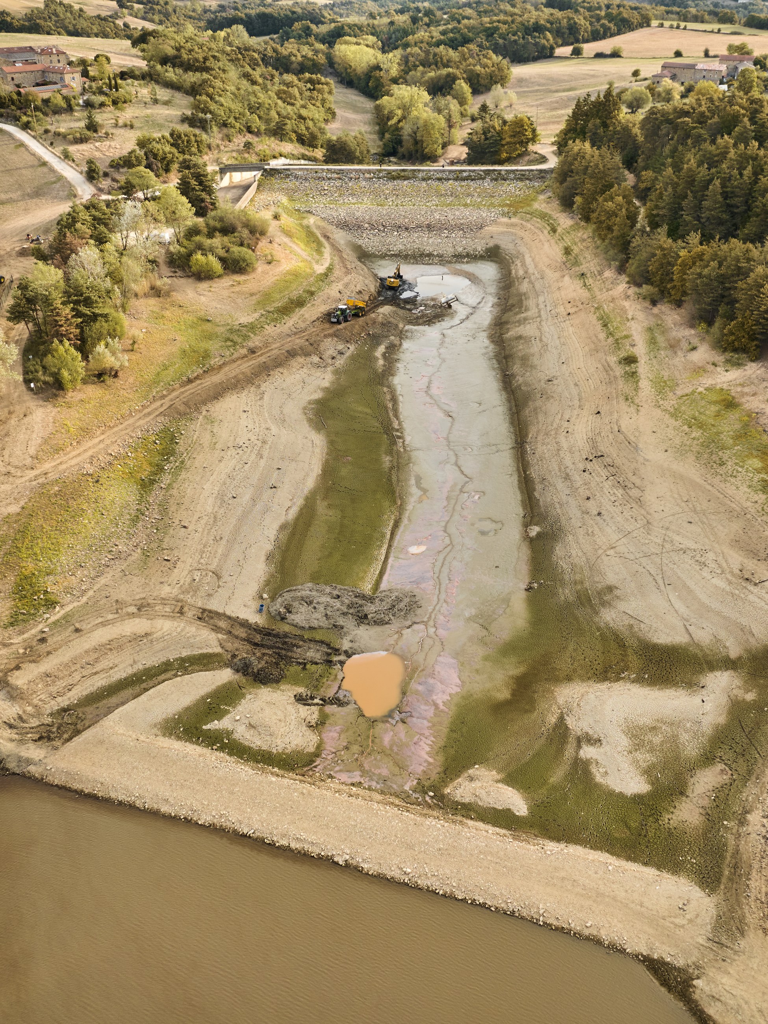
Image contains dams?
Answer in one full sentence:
Yes, a dam appears in the view.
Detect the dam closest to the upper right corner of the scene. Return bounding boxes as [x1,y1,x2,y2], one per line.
[240,165,563,263]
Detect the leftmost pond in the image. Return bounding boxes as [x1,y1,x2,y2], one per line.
[343,653,404,718]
